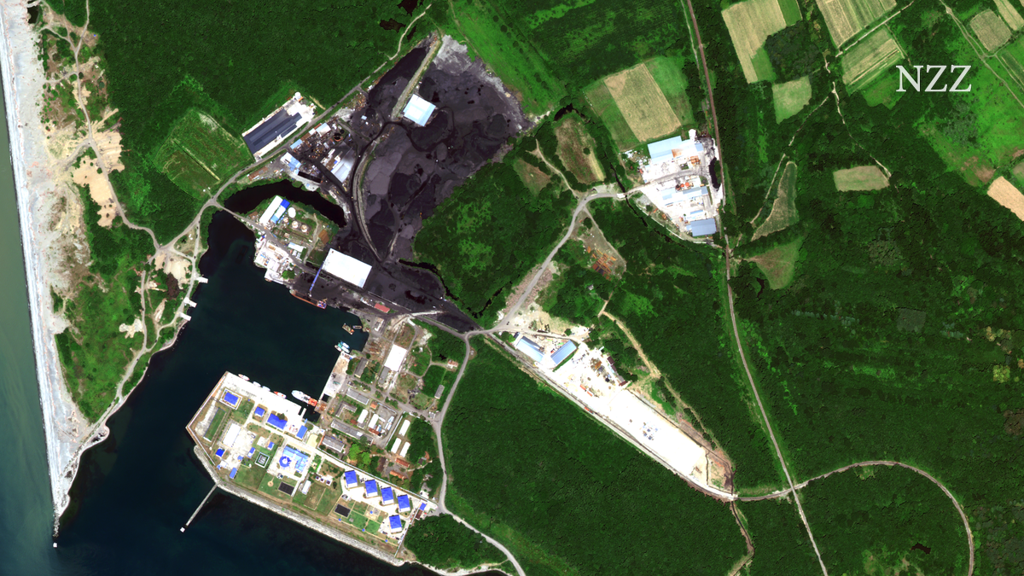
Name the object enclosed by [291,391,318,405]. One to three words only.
ship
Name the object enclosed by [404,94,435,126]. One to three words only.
shed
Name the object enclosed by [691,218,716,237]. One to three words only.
building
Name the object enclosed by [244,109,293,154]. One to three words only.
building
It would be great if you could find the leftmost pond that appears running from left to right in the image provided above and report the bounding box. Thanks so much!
[225,179,346,228]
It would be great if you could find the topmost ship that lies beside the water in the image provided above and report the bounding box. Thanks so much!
[290,290,327,308]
